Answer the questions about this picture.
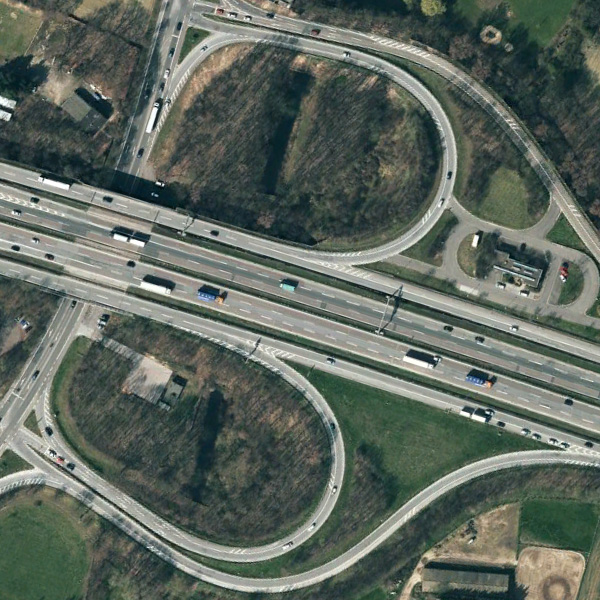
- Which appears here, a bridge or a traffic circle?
bridge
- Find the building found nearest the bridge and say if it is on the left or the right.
left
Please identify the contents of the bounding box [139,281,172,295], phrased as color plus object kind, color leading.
white vehicle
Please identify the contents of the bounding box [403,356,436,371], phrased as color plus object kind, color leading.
white vehicle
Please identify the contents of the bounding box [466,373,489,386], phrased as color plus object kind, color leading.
blue vehicle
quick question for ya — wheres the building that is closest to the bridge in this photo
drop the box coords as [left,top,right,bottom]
[62,91,108,138]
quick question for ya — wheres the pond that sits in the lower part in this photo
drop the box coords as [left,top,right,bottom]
[192,393,227,504]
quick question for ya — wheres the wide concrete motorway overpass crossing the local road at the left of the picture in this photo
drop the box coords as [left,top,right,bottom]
[53,184,162,313]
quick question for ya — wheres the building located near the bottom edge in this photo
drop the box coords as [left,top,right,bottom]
[421,565,509,598]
